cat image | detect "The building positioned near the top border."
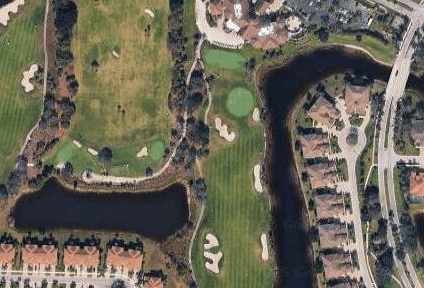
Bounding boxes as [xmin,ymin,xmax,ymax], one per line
[208,0,306,51]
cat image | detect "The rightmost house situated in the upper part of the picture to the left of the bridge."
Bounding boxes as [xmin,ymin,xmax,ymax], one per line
[347,86,369,112]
